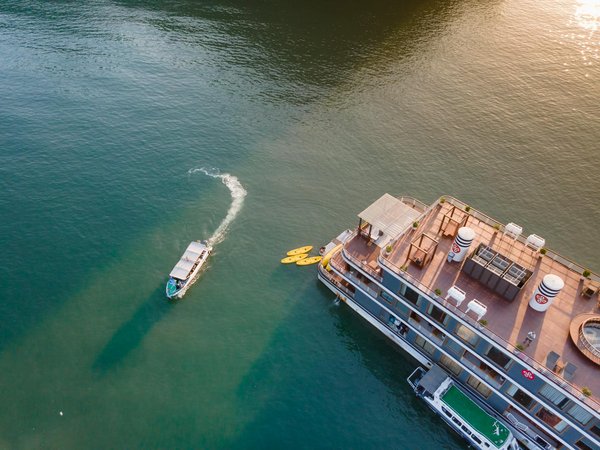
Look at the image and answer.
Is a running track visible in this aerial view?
No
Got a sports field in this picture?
No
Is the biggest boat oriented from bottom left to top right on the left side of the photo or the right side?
left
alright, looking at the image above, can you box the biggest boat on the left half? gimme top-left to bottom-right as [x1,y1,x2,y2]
[169,242,217,299]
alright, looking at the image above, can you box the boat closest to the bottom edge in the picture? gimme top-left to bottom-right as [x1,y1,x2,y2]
[406,367,529,450]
